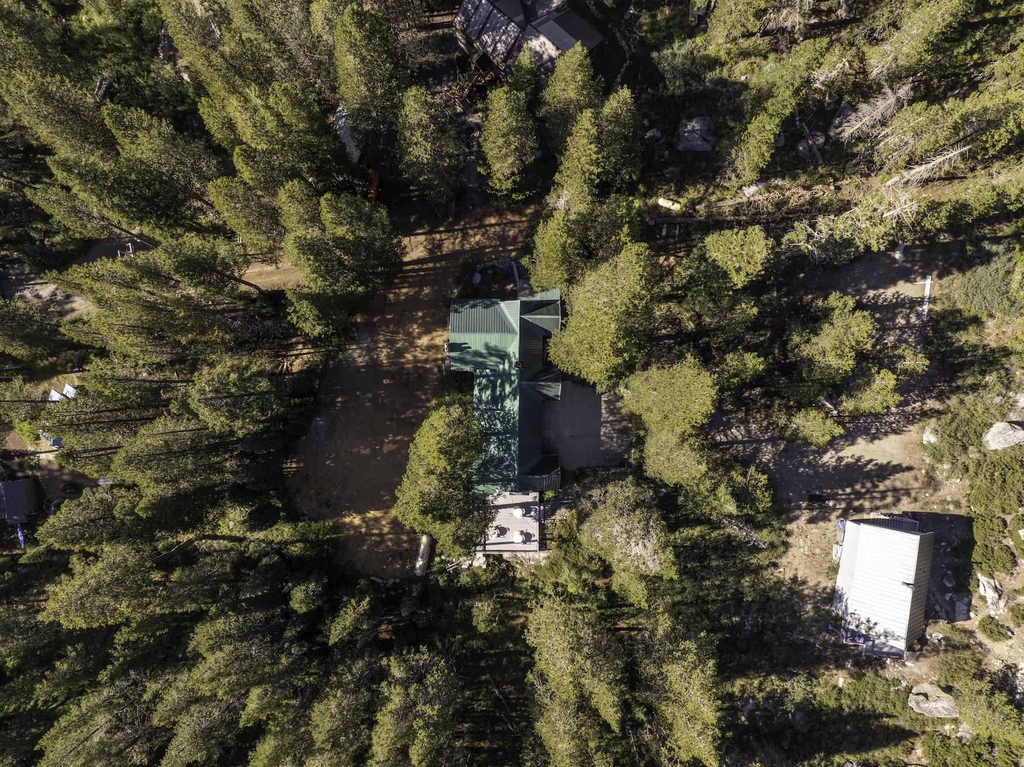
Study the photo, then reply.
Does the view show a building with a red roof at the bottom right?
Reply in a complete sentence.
No, the scene shows no building with a red roof at the bottom right.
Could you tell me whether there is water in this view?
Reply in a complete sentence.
No, the scene doesn't show any water.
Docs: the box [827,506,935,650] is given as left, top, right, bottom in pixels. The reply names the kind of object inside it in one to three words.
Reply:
building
